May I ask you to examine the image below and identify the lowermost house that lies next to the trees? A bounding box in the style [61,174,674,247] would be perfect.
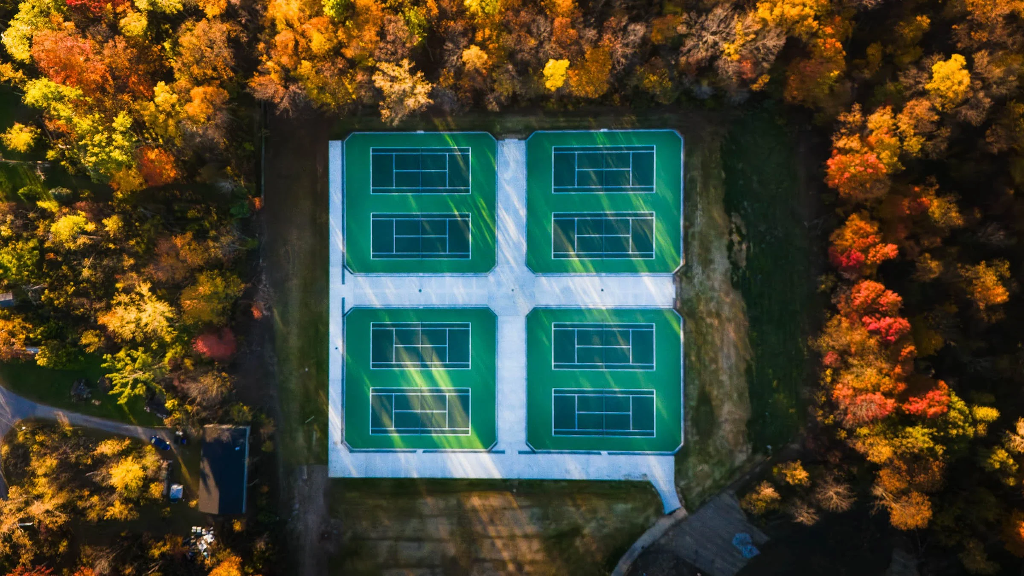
[199,428,248,519]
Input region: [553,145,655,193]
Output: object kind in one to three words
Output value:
tennis court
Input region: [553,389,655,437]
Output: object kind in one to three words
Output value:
tennis court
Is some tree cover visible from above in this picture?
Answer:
Yes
